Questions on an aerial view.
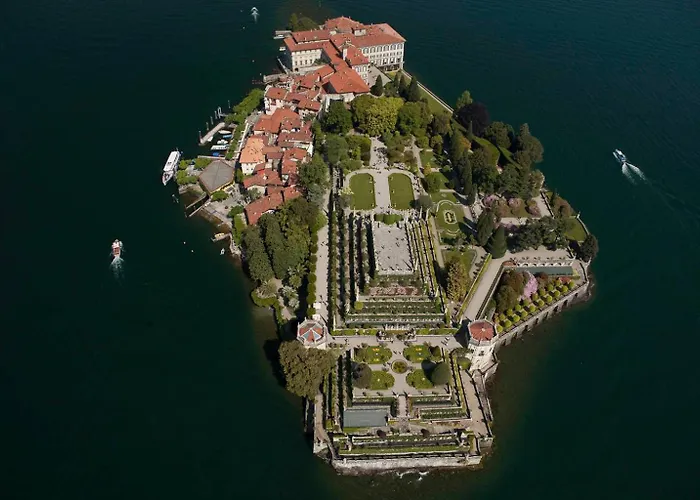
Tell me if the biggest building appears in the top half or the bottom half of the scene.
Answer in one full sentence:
It is in the top half that the biggest building appears.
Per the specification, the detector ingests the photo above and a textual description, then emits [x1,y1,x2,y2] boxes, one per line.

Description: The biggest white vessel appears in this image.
[162,148,182,185]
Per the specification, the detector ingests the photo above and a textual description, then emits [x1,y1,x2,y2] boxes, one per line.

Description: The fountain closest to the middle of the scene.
[392,359,408,374]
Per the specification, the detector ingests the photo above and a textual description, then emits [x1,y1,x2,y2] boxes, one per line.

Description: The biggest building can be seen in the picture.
[285,18,406,105]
